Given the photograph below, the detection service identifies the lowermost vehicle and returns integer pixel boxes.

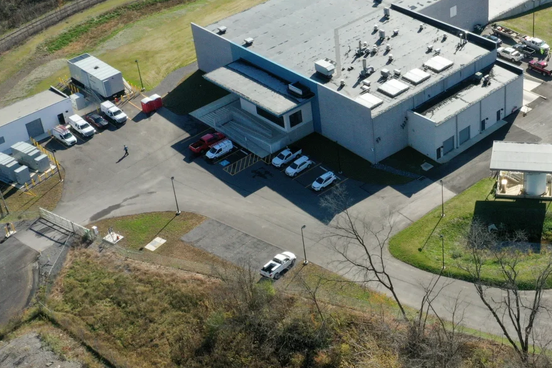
[257,248,302,279]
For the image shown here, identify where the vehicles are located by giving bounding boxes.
[267,144,307,168]
[308,166,340,190]
[84,111,111,129]
[525,59,552,75]
[281,152,315,176]
[510,40,540,56]
[97,96,128,122]
[50,120,79,145]
[519,35,551,52]
[483,32,505,46]
[203,132,238,159]
[257,248,302,279]
[497,45,526,61]
[64,109,96,135]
